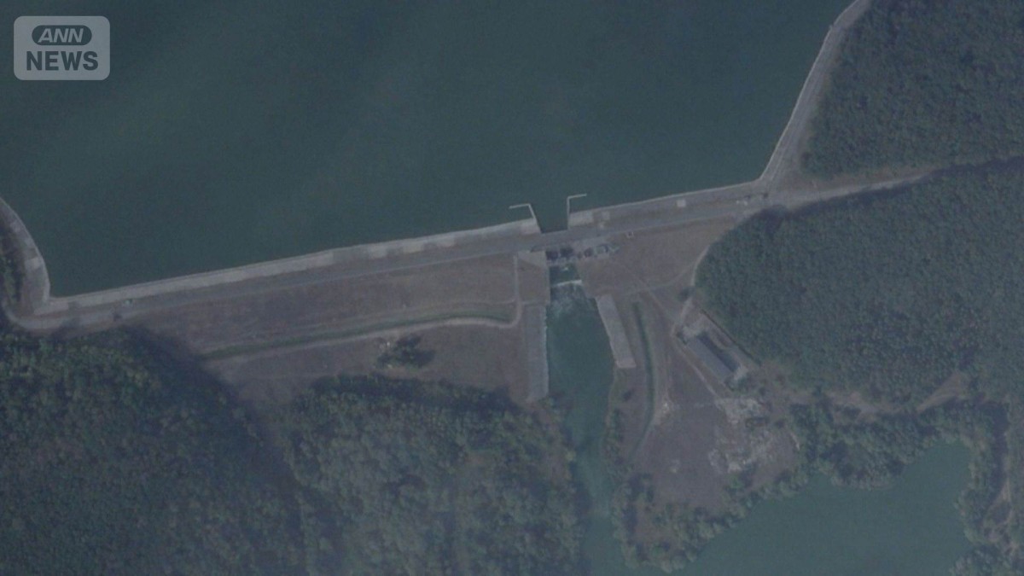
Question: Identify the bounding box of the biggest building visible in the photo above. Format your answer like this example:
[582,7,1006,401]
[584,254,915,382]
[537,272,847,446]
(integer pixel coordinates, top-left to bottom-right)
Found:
[688,337,733,382]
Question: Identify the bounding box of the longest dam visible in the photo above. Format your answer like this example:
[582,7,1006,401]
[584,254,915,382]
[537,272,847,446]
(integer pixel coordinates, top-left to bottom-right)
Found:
[30,178,774,355]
